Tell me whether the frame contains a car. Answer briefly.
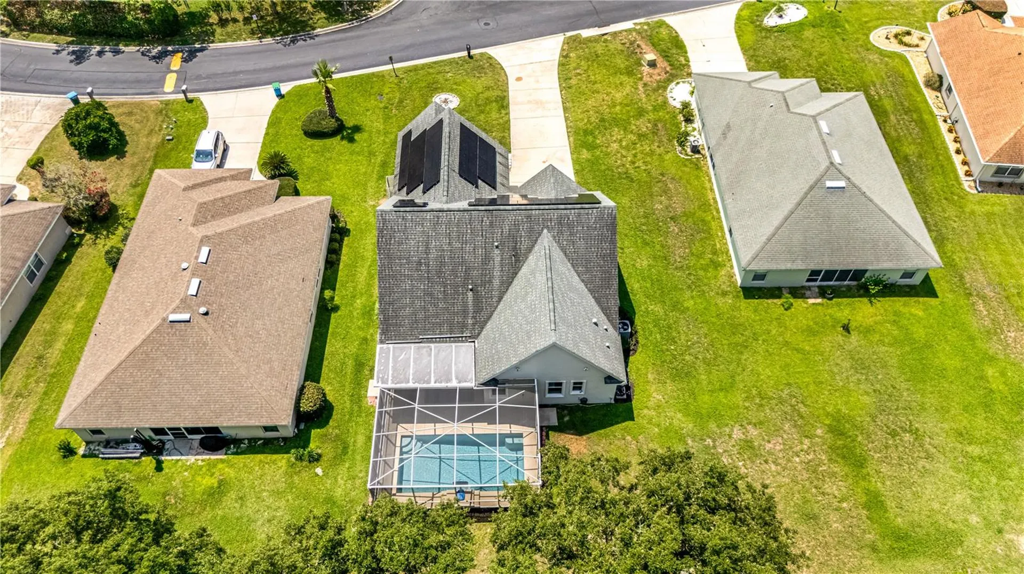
Yes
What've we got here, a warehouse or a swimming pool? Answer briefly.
swimming pool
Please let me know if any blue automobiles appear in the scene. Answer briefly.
No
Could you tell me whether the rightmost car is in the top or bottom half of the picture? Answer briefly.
top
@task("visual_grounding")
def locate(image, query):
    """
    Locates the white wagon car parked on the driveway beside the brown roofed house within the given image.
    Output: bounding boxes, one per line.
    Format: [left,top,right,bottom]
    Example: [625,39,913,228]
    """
[188,132,225,169]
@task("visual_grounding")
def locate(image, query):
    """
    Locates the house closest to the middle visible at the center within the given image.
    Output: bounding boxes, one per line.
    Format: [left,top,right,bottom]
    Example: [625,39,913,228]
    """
[368,102,626,403]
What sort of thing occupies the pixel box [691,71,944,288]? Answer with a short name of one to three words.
house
